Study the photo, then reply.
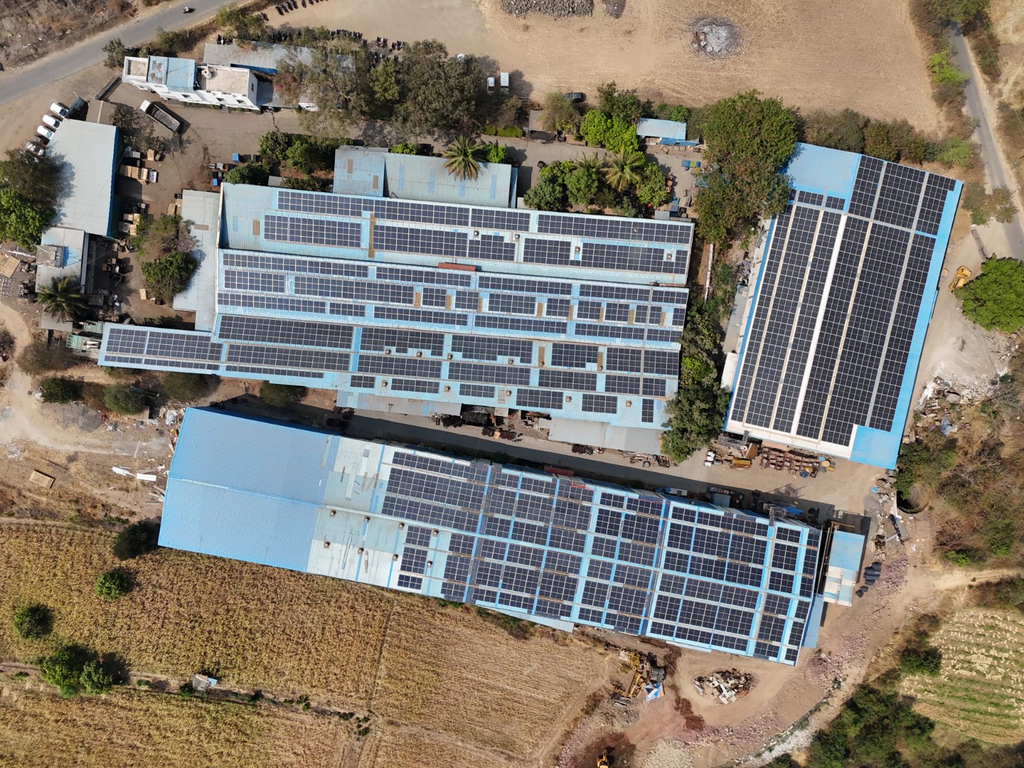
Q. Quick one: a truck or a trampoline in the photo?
truck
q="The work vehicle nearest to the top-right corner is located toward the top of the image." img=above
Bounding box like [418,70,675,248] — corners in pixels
[945,260,973,295]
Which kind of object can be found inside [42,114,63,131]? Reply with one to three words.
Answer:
car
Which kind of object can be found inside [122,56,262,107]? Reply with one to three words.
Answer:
building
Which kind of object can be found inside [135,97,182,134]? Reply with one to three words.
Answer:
truck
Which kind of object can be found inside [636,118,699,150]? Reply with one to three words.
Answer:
shed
